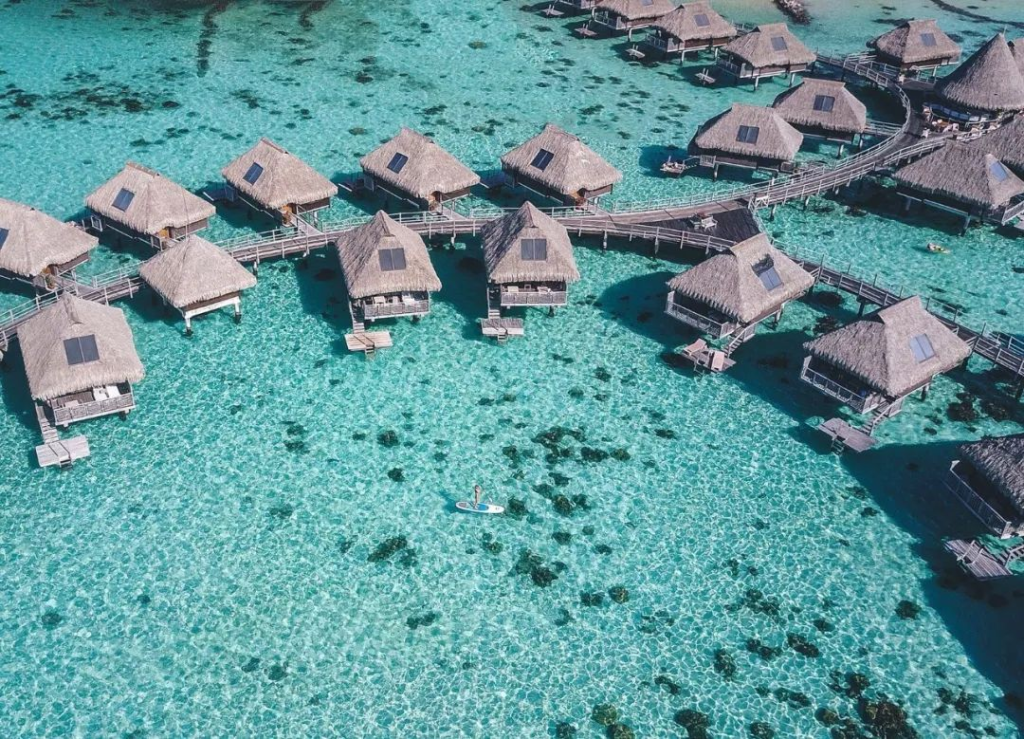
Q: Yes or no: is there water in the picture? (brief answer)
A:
Yes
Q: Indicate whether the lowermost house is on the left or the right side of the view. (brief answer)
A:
right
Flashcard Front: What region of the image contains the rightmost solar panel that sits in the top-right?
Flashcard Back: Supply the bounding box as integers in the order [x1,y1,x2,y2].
[994,163,1015,185]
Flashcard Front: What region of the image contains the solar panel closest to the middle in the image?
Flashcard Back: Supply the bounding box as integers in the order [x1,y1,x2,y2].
[521,240,546,261]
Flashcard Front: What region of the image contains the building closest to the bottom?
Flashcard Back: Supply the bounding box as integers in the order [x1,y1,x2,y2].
[945,432,1024,577]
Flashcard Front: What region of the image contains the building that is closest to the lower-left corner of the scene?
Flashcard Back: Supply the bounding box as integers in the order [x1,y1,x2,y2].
[17,292,150,469]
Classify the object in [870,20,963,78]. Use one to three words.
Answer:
house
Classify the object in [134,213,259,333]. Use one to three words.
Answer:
building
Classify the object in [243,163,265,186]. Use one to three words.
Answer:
solar panel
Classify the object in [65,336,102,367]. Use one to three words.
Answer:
solar panel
